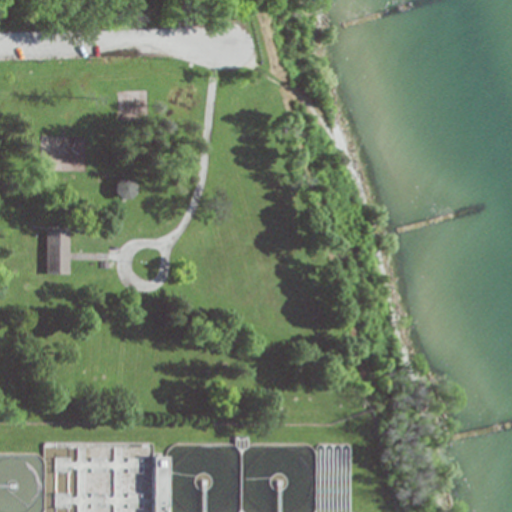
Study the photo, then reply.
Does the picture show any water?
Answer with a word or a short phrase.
Yes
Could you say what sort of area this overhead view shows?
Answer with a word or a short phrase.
industrial area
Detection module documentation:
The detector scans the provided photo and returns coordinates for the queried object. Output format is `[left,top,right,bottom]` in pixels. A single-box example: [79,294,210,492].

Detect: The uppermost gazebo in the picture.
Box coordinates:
[118,180,138,200]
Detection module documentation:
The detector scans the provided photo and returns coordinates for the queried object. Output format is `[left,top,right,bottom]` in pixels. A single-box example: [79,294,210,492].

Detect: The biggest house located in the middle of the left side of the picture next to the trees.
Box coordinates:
[46,233,70,274]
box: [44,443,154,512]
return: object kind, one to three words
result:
storage tank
